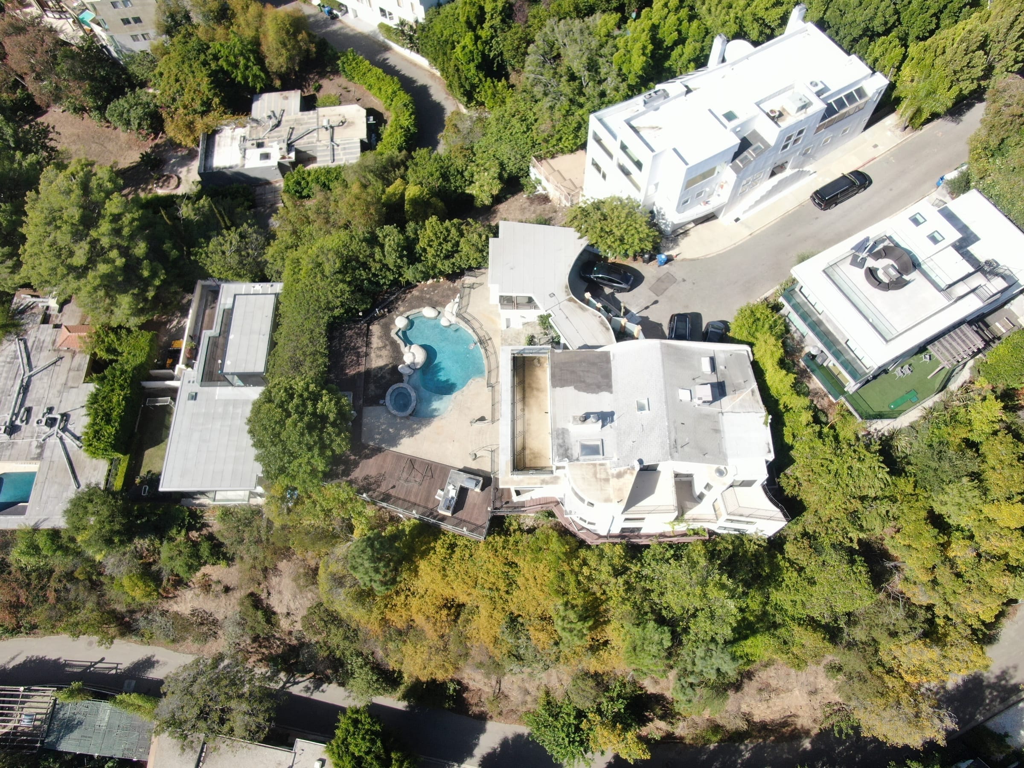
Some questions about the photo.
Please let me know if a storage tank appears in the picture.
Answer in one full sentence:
No, there isn't any storage tank down there.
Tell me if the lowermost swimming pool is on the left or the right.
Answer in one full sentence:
The lowermost swimming pool sits on the left side.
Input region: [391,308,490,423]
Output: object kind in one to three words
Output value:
swimming pool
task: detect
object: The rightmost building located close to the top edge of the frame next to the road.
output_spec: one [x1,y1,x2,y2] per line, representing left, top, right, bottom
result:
[584,4,889,248]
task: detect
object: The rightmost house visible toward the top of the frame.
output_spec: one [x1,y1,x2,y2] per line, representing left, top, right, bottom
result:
[776,189,1024,425]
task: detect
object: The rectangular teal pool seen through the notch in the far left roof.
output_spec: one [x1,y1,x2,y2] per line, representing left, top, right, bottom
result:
[0,467,37,516]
